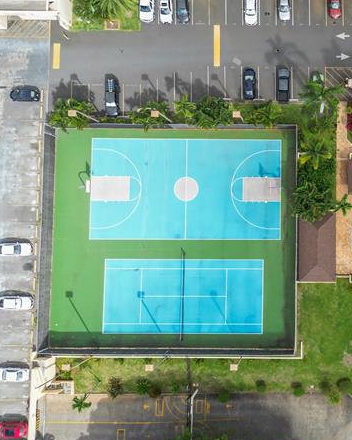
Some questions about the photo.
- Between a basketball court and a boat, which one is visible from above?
basketball court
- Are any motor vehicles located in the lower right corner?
No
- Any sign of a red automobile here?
Yes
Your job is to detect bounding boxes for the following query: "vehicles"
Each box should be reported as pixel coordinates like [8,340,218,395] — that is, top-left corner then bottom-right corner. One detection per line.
[0,241,34,258]
[157,0,173,24]
[0,366,31,384]
[102,76,120,115]
[0,296,36,312]
[243,0,258,26]
[9,86,41,102]
[276,0,290,22]
[274,68,289,102]
[174,0,190,24]
[0,421,29,440]
[327,0,341,20]
[241,68,256,101]
[137,0,154,22]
